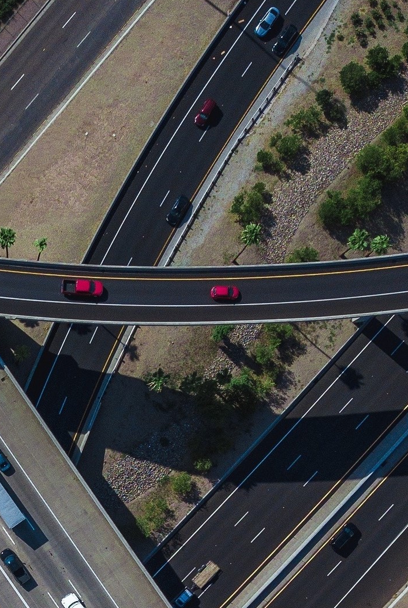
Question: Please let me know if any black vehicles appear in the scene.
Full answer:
Yes, there's a black vehicle down there.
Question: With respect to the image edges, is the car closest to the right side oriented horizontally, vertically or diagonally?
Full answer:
From this overhead view, the car closest to the right side appears to run diagonally.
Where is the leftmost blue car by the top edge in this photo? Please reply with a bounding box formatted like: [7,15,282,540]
[254,5,281,40]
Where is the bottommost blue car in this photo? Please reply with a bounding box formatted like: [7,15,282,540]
[171,586,197,608]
